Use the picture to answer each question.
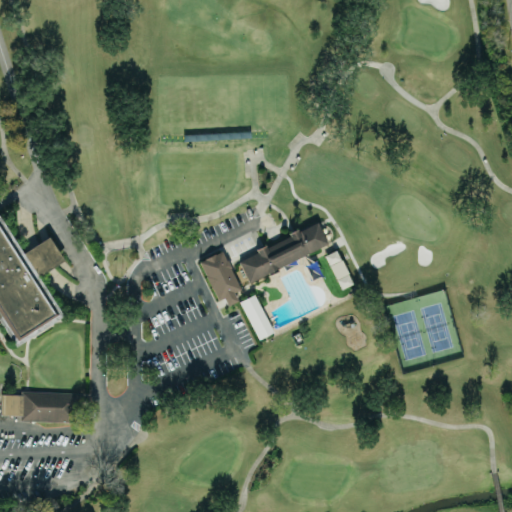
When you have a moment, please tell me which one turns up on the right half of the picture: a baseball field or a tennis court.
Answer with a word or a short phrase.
tennis court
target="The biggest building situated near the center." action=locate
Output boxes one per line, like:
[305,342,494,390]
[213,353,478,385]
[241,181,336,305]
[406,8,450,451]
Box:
[240,224,328,283]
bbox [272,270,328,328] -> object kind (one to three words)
swimming pool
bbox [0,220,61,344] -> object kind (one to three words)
building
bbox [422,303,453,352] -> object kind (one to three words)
tennis court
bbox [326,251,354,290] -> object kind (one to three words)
building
